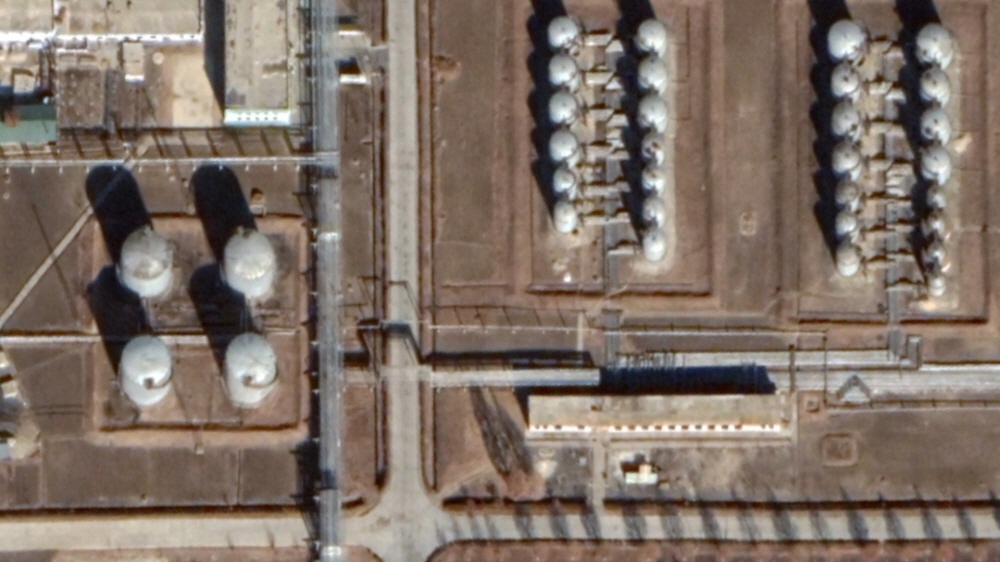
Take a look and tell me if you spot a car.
No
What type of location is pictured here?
industrial area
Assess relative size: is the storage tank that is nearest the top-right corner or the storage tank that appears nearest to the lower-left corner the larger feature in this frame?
the storage tank that appears nearest to the lower-left corner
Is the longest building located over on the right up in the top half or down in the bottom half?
bottom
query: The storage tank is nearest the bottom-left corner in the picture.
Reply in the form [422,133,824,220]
[119,337,176,406]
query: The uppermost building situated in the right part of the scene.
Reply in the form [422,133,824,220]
[527,395,790,434]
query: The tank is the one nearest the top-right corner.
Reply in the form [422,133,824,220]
[914,22,955,67]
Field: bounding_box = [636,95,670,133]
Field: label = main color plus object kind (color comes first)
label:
white storage tank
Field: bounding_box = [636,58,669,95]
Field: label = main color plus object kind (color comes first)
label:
white storage tank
